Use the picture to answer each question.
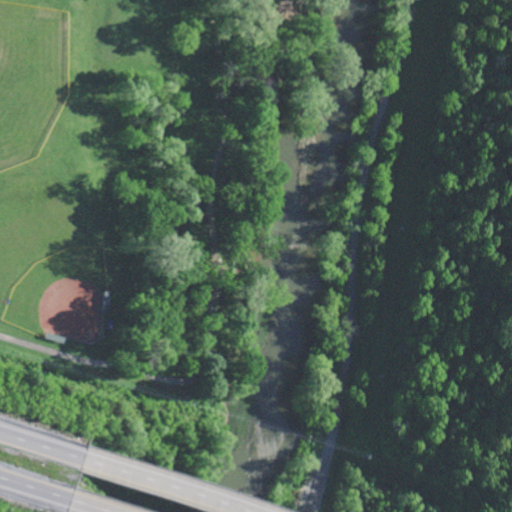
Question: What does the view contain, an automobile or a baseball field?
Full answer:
Visible in the photo is a baseball field.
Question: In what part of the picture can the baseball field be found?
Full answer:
You can find the baseball field in the left area of the picture.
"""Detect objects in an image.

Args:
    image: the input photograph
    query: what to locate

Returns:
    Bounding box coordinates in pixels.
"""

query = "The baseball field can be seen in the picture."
[2,248,107,344]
